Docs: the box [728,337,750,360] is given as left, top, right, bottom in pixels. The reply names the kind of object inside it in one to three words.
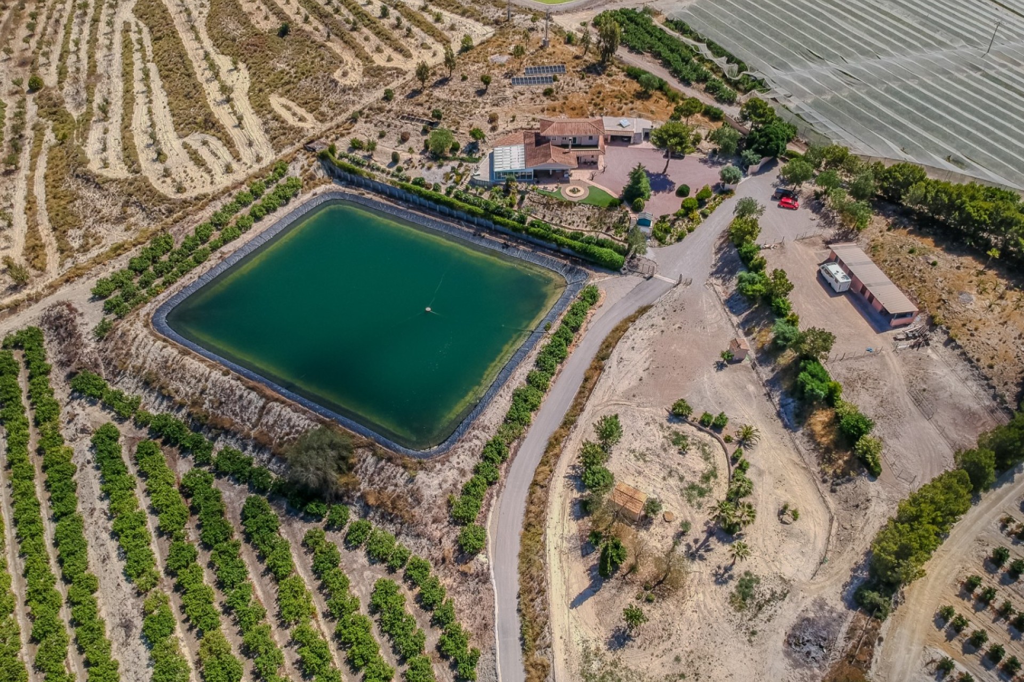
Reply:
shed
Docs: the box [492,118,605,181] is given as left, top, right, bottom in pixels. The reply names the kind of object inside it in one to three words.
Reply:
house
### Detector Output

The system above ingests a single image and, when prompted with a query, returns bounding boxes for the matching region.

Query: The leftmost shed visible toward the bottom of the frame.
[610,481,648,520]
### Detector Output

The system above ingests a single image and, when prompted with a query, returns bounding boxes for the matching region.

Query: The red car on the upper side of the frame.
[778,197,800,209]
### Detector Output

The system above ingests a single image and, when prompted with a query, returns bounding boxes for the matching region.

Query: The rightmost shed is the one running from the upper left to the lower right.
[828,242,920,331]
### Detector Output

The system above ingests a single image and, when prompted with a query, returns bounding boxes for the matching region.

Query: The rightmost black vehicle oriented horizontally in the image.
[773,188,800,201]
